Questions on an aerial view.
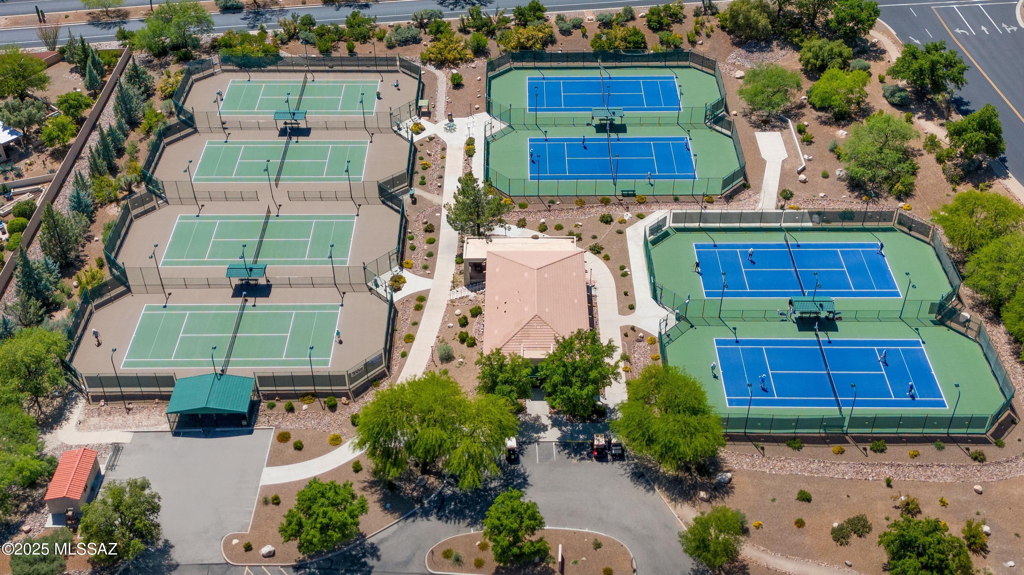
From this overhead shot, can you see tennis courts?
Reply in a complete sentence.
Yes, you can see a tennis court in this photo.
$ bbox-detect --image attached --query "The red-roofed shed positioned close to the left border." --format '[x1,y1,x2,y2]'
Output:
[45,447,103,513]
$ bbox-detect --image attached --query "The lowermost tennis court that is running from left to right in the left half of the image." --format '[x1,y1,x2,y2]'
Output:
[68,284,387,391]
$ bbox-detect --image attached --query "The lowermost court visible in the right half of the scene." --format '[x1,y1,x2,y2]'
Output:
[661,317,1007,434]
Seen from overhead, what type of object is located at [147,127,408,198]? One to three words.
tennis court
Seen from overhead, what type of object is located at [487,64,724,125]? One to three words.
tennis court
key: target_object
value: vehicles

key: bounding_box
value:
[593,433,606,457]
[610,431,624,456]
[506,434,518,459]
